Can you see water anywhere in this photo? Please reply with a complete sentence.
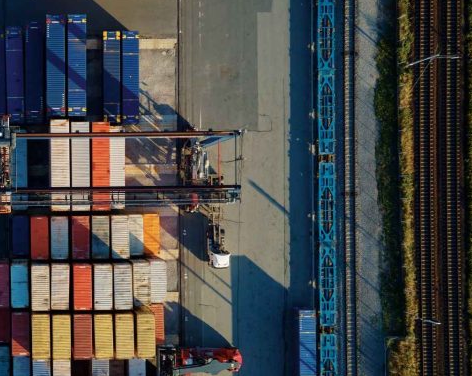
No, there's no water in this view.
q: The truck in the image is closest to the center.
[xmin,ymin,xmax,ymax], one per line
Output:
[206,174,229,271]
